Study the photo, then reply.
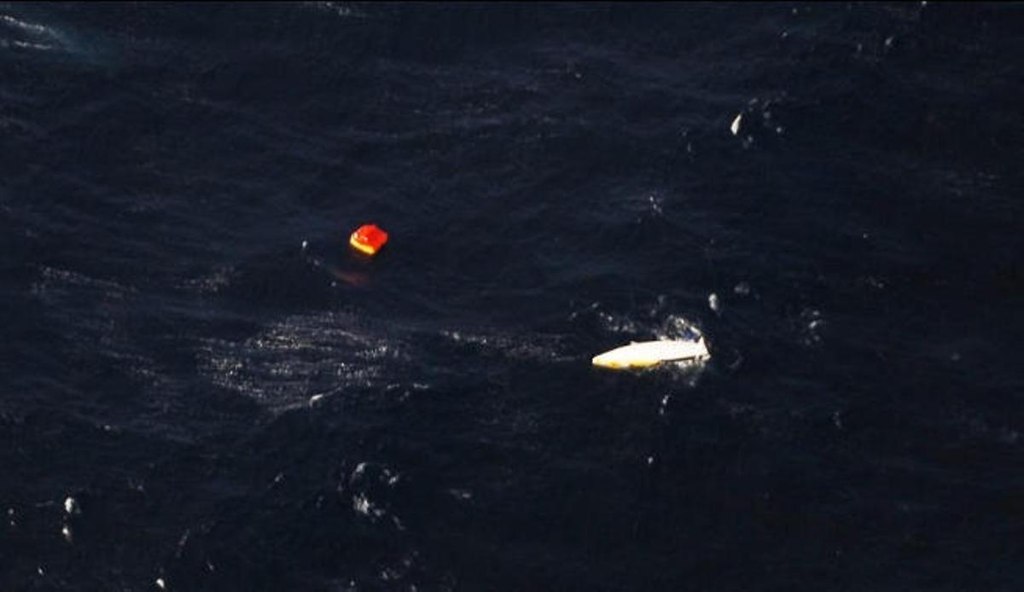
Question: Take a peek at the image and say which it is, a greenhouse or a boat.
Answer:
boat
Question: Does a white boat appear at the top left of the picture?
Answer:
No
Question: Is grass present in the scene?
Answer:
No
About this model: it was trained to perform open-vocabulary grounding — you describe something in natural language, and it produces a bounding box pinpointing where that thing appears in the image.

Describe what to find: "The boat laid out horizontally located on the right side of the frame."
[593,333,710,367]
